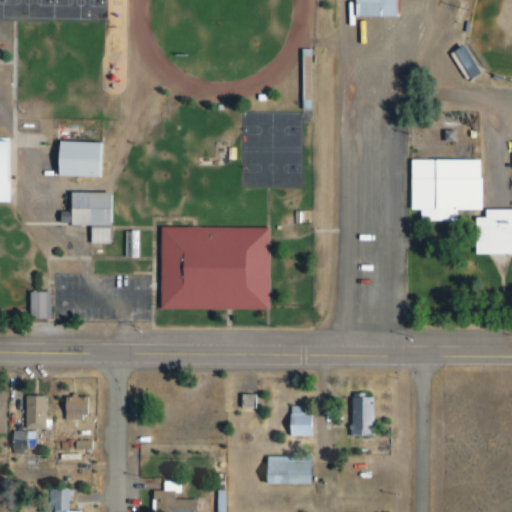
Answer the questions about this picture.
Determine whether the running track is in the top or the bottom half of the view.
top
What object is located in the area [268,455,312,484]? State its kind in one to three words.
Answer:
barn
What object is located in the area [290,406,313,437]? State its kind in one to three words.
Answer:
house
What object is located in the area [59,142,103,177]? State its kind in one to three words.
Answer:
shed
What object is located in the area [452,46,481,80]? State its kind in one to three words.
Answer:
building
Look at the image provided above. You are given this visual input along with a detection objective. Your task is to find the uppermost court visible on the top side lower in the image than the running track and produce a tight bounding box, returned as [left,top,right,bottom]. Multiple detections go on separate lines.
[244,111,303,150]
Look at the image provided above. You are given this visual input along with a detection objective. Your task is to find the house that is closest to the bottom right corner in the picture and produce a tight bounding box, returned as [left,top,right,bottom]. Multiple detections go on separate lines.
[352,394,374,438]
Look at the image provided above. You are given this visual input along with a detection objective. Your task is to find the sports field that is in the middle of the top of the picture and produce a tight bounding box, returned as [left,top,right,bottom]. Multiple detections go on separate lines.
[148,0,294,82]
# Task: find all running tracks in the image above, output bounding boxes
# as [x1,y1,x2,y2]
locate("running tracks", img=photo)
[132,0,310,98]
